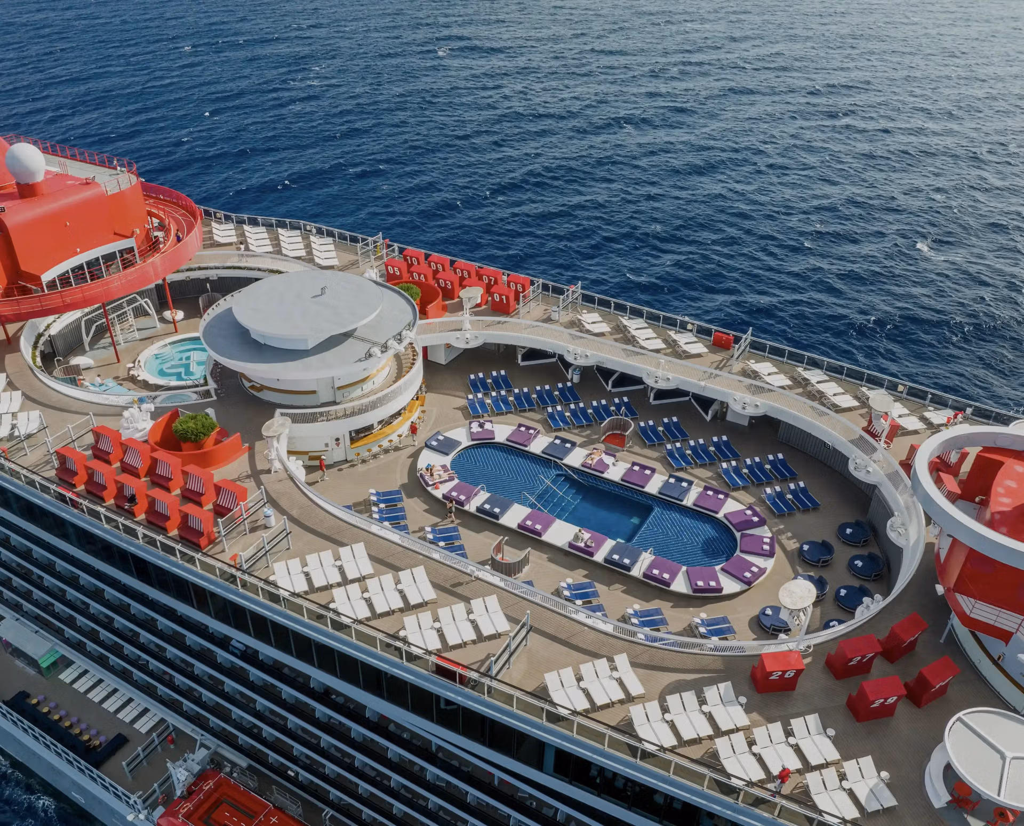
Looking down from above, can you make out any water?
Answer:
Yes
